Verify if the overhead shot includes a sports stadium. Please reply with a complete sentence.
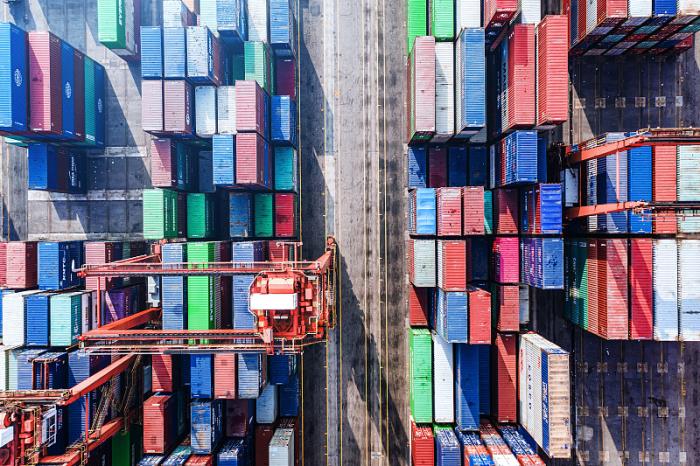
No, the picture doesn't show any sports stadium.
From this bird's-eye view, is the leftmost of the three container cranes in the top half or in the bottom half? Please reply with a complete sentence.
It is in the bottom half that the leftmost of the three container cranes appears.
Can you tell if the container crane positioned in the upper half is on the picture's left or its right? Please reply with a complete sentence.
You can find the container crane positioned in the upper half on the right side of the picture.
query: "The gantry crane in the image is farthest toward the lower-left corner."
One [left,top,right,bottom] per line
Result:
[0,321,156,466]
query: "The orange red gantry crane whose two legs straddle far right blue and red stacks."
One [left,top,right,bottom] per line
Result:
[550,133,700,237]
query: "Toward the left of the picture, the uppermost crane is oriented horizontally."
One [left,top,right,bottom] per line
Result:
[75,230,342,364]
